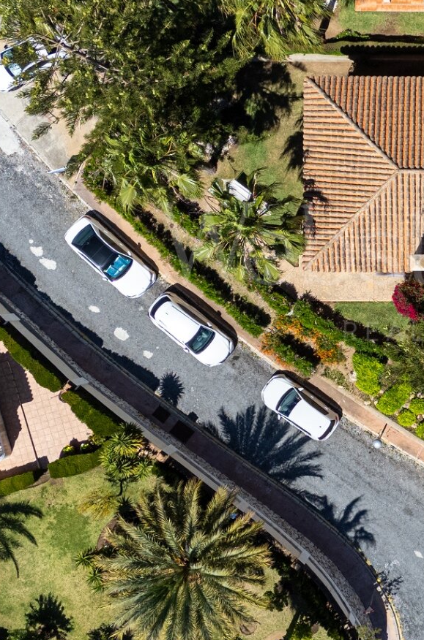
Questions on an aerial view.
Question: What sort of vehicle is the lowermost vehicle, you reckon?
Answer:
car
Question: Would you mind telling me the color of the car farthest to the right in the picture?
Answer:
white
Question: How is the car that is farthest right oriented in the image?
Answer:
diagonally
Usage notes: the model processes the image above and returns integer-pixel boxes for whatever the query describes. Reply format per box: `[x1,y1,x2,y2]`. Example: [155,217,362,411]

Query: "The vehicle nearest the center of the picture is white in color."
[142,290,243,367]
